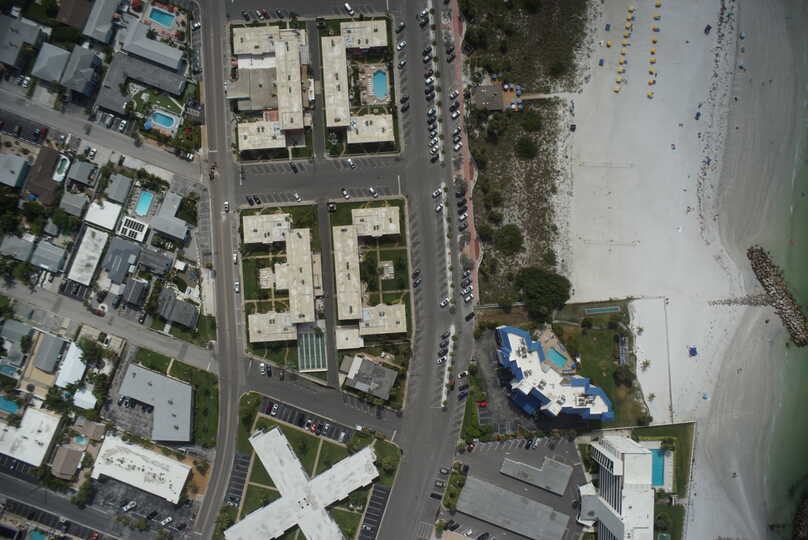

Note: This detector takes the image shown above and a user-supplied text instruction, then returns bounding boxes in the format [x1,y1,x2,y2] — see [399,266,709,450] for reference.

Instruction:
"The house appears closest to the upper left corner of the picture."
[0,13,43,67]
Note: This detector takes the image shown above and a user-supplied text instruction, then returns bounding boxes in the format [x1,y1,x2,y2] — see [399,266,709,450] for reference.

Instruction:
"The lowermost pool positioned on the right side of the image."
[647,448,665,486]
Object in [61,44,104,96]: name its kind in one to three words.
house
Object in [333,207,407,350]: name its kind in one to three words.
building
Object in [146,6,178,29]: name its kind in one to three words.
swimming pool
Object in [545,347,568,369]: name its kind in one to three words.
swimming pool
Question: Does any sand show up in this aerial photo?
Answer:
Yes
